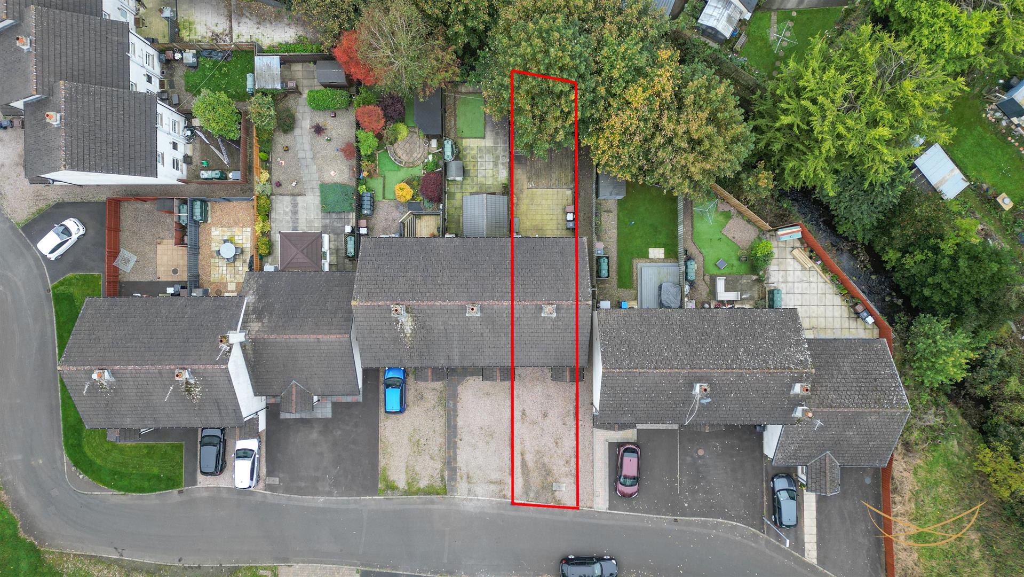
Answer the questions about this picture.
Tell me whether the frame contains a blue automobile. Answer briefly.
Yes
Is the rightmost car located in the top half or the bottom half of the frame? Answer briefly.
bottom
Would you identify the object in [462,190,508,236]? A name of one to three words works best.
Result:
shed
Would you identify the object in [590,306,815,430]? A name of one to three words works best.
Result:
house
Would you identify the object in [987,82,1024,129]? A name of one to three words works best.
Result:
shed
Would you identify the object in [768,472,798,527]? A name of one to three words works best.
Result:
car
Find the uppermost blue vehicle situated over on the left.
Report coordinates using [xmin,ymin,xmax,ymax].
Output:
[382,369,407,414]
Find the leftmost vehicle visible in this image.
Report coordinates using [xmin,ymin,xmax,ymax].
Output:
[35,218,92,261]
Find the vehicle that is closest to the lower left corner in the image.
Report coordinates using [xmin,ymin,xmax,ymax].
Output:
[197,430,228,477]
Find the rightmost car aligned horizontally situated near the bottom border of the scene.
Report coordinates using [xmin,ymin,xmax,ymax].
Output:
[560,553,616,577]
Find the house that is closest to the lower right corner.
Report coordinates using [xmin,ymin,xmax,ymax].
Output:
[763,337,910,495]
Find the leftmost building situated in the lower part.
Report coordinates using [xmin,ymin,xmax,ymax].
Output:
[57,295,268,442]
